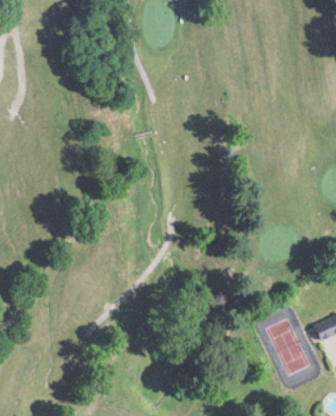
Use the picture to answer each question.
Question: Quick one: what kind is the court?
tennis court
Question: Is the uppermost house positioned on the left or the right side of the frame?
right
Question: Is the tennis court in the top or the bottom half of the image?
bottom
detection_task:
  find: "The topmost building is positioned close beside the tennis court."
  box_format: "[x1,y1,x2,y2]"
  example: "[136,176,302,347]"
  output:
[314,312,336,340]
